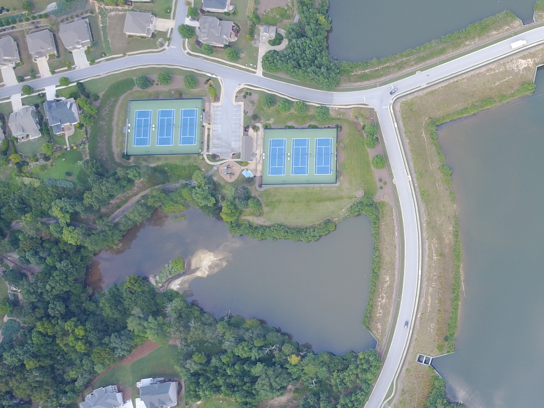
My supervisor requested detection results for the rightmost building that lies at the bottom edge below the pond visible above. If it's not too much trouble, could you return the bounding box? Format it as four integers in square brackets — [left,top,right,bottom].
[135,377,181,408]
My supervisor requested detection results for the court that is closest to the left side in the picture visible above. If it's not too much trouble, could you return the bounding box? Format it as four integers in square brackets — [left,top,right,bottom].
[133,110,152,146]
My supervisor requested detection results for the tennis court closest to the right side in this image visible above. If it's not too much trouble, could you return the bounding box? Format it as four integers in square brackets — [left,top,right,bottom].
[315,138,333,174]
